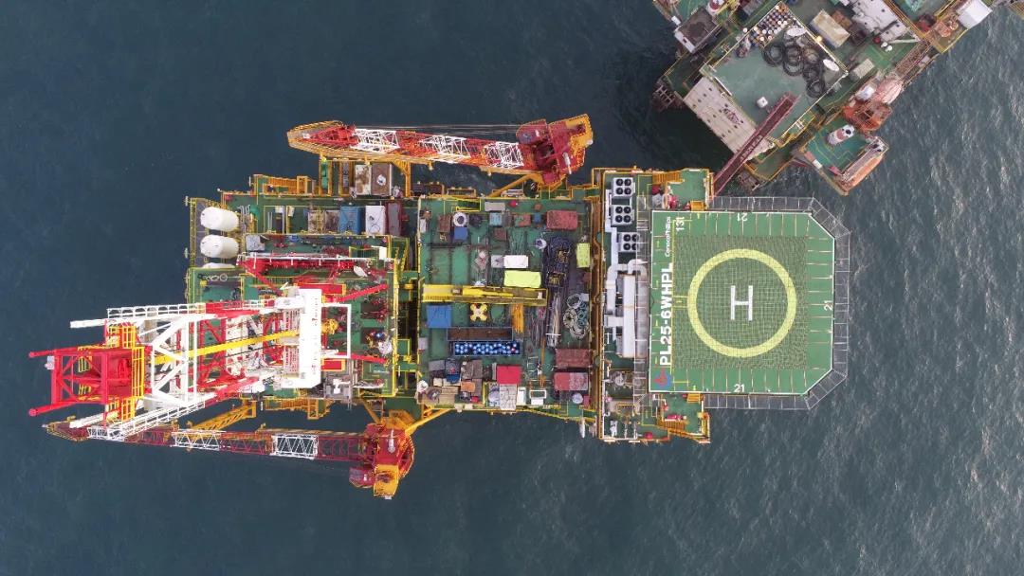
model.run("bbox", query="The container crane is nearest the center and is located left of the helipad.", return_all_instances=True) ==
[422,287,548,304]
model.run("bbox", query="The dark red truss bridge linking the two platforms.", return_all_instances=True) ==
[702,87,806,200]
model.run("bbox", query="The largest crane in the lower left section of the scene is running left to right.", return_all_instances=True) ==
[35,398,450,501]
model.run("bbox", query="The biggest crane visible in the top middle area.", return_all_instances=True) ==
[283,111,594,199]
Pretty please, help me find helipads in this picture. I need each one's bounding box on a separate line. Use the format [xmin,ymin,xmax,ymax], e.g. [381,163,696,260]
[634,195,850,410]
